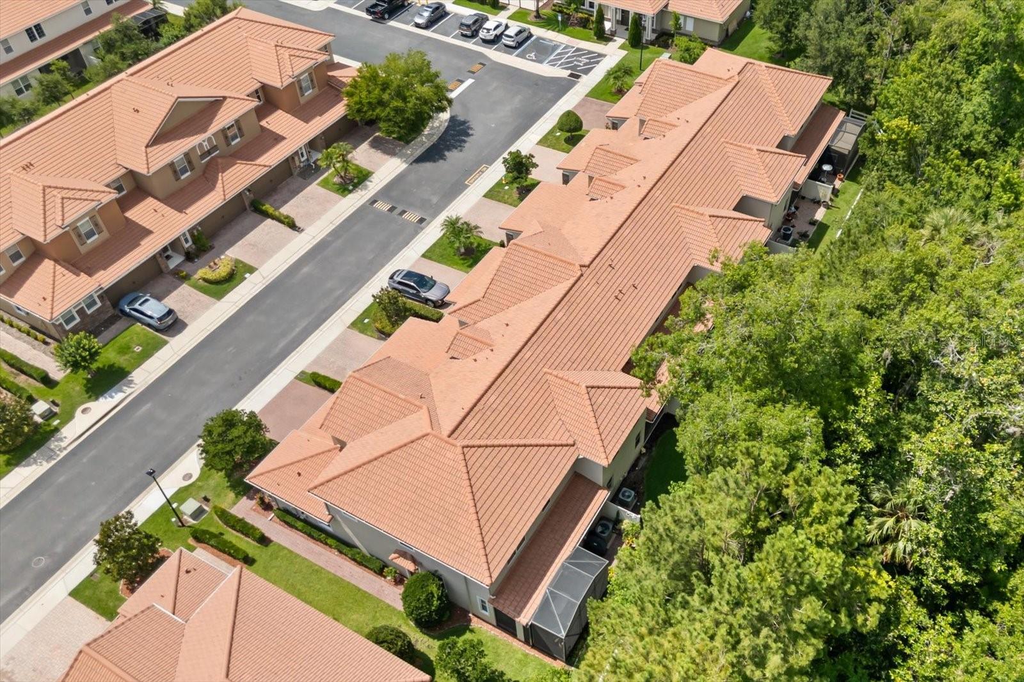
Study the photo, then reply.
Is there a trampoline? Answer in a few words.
No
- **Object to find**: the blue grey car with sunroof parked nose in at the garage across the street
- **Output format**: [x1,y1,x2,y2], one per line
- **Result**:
[119,292,177,329]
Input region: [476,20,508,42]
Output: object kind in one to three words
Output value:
car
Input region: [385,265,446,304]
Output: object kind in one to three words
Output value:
car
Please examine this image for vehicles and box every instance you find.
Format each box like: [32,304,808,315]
[499,27,528,47]
[416,4,448,26]
[454,14,487,37]
[385,265,446,304]
[119,292,177,329]
[369,0,408,18]
[476,20,508,42]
